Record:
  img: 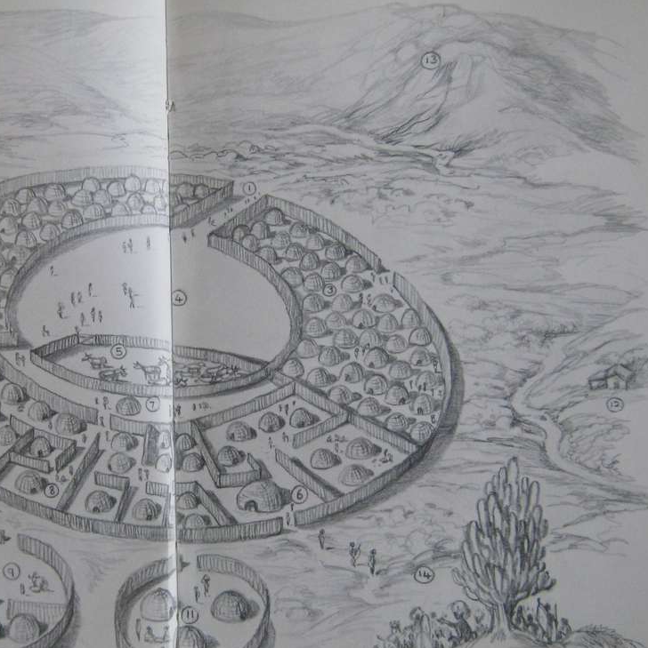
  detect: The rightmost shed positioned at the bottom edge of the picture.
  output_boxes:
[211,587,249,624]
